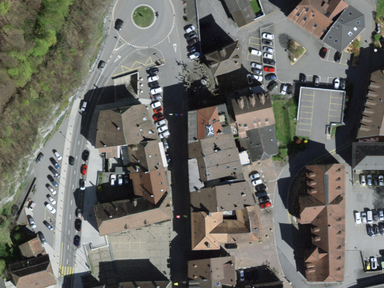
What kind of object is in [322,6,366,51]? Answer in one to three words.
house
